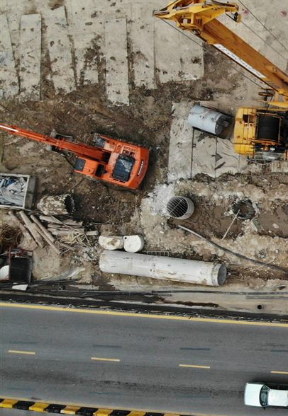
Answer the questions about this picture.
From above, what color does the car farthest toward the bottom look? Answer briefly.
white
